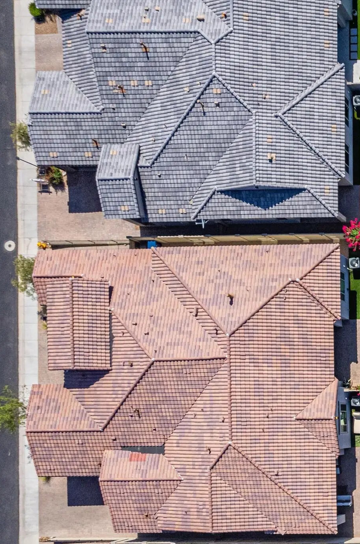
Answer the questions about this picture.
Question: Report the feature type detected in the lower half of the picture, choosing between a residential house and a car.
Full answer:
Visible in the lower half of the picture is a residential house.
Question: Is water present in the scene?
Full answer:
No, there's no water in this view.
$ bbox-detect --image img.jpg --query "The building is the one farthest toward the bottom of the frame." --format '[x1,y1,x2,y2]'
[24,242,348,535]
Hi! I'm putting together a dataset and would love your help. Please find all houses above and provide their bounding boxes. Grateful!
[27,0,352,222]
[24,242,348,535]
